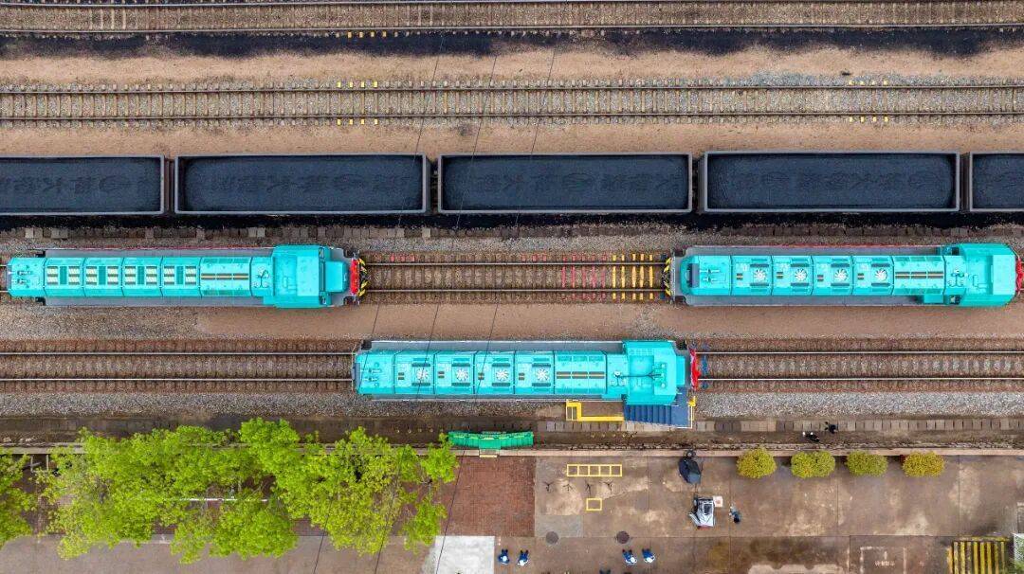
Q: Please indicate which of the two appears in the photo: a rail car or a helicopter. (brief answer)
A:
rail car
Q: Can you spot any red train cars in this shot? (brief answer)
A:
No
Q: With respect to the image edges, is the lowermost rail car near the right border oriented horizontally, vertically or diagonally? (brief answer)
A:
horizontally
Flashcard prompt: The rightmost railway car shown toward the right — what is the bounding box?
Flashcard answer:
[944,150,1024,215]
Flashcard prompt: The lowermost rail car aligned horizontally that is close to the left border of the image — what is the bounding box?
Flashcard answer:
[8,246,370,308]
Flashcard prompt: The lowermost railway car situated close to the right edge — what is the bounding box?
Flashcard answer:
[659,245,1018,307]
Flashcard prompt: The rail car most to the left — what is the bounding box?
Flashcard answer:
[0,154,184,219]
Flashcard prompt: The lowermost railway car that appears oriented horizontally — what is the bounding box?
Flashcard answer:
[347,339,694,403]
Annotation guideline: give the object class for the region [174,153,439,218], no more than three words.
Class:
rail car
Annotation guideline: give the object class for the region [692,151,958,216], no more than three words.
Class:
rail car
